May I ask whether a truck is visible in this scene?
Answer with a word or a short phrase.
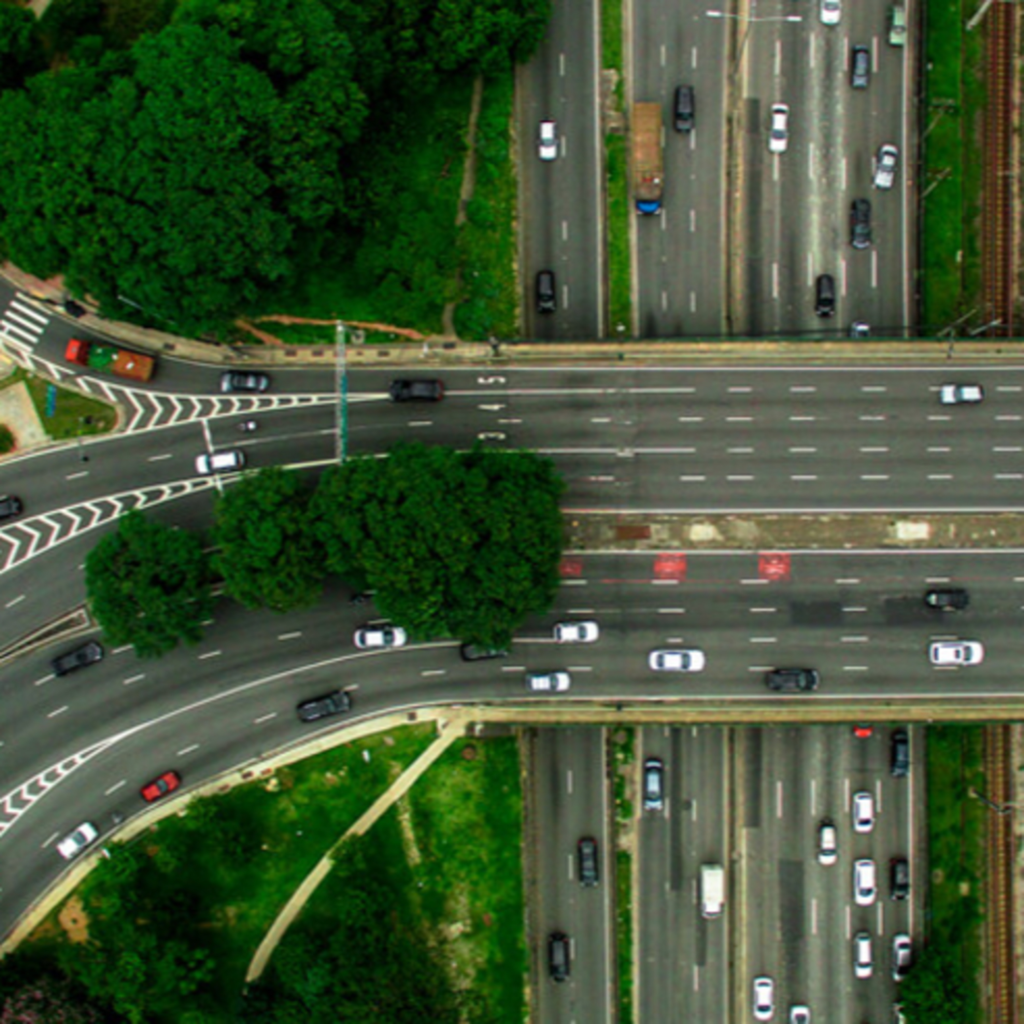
Yes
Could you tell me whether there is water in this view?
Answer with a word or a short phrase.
No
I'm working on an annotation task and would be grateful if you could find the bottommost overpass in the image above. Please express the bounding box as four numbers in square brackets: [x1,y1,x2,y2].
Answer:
[489,336,1024,727]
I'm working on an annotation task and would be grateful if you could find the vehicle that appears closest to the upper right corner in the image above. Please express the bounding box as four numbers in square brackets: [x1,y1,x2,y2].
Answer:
[887,4,909,47]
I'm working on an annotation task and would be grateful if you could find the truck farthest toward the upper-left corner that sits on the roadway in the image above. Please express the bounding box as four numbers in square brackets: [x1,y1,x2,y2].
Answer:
[64,334,158,382]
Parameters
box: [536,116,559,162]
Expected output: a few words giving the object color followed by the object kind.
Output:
white car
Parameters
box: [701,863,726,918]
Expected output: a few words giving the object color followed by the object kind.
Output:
white vehicle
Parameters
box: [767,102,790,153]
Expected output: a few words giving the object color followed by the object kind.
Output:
white car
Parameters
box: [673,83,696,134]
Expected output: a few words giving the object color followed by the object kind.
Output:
black car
